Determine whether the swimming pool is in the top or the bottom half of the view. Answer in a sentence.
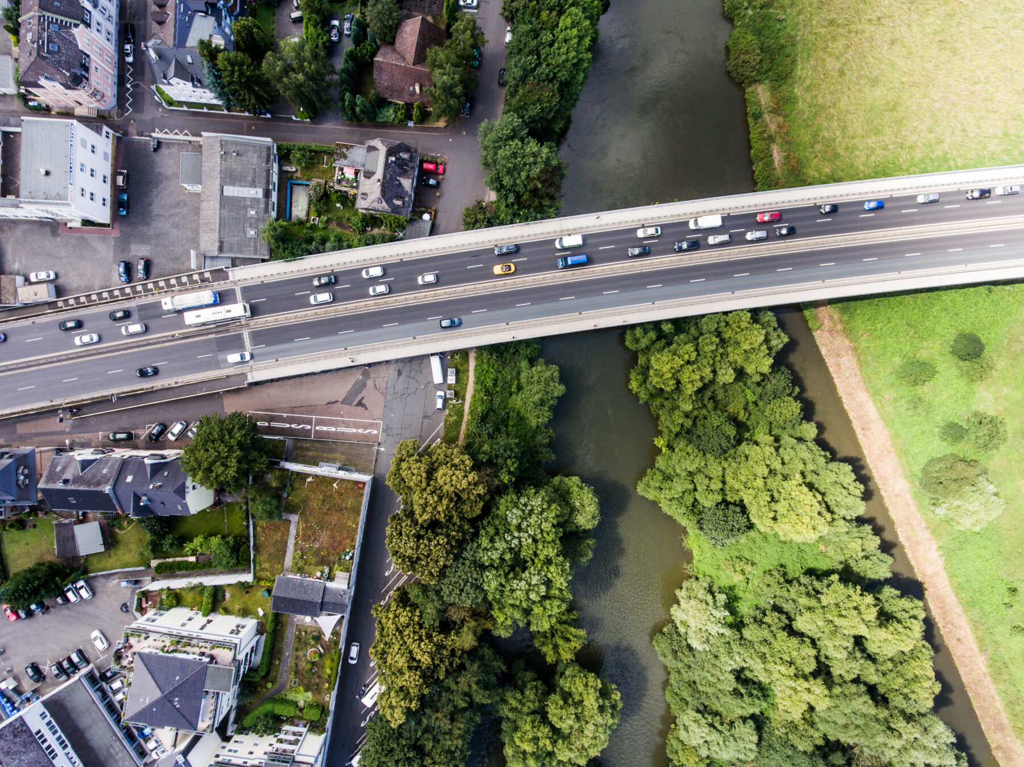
The swimming pool sits in the top half of the picture.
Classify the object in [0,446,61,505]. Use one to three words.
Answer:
house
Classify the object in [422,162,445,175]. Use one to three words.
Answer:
vehicle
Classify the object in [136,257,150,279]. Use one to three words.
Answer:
car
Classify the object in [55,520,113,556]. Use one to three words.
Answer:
shed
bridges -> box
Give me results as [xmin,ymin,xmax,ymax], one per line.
[228,162,1024,383]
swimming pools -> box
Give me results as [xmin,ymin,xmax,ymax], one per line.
[286,179,310,222]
